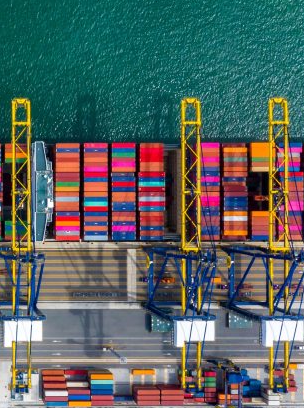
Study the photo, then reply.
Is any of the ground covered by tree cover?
No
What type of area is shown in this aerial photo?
port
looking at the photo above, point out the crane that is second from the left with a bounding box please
[136,99,220,395]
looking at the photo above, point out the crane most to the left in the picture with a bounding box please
[0,99,47,395]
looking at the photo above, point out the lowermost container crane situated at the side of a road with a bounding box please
[203,361,243,408]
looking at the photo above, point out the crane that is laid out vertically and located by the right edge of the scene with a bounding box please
[213,99,304,395]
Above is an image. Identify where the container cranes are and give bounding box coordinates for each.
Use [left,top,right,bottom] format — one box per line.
[136,99,220,395]
[203,361,243,408]
[0,99,47,395]
[213,99,304,395]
